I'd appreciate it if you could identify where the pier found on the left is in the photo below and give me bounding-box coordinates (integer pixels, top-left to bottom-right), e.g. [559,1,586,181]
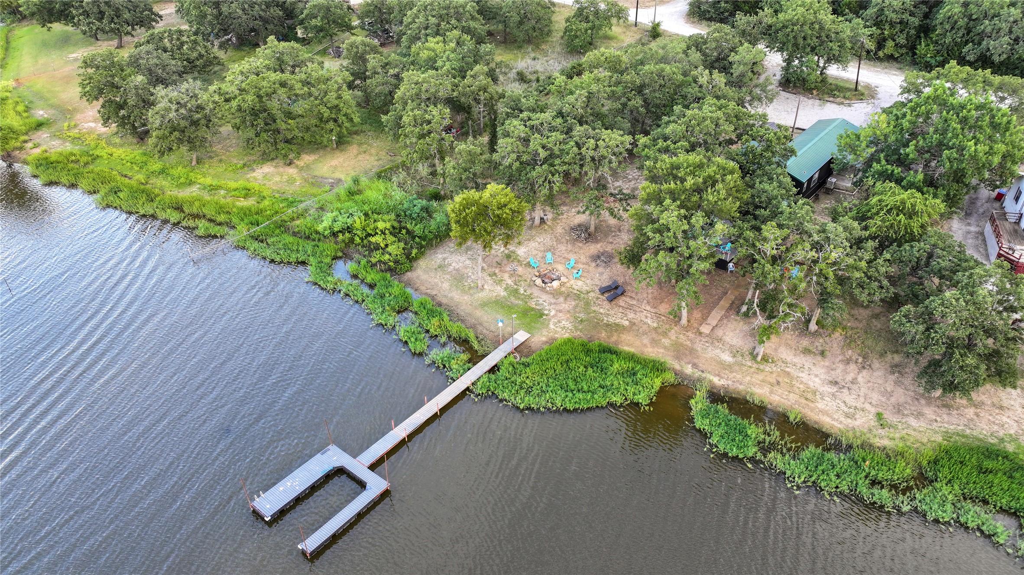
[243,419,391,562]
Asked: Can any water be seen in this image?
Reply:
Yes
